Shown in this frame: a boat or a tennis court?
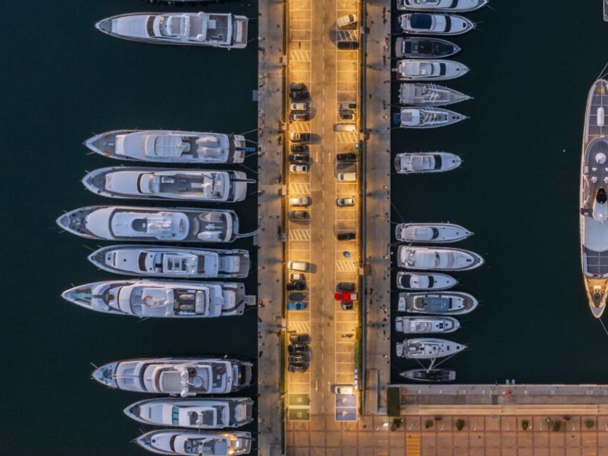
boat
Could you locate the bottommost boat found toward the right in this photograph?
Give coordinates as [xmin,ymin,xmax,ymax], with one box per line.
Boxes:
[398,369,455,381]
